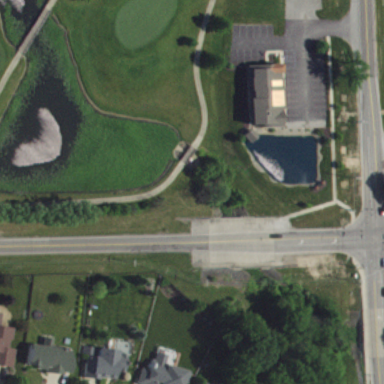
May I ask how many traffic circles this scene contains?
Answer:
0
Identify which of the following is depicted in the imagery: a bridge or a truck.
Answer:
bridge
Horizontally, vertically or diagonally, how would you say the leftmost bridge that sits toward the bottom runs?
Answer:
horizontally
